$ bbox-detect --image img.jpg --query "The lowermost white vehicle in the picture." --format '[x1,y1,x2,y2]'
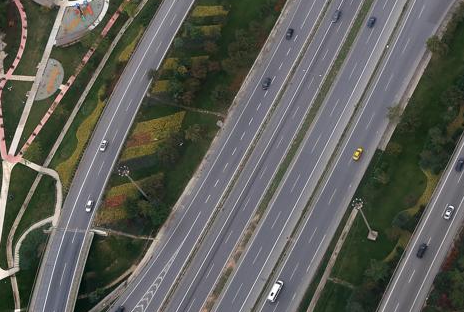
[267,280,283,301]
